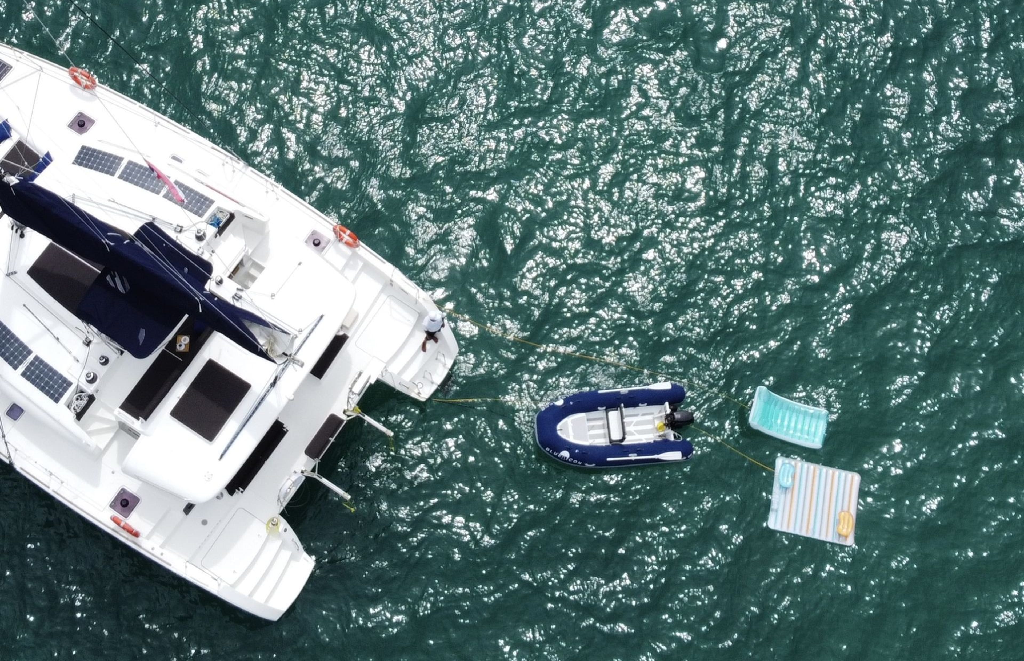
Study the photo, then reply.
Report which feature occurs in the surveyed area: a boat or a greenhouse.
boat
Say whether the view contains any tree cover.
No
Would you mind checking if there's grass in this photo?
No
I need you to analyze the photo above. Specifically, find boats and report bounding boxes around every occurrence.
[0,0,459,622]
[535,385,694,468]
